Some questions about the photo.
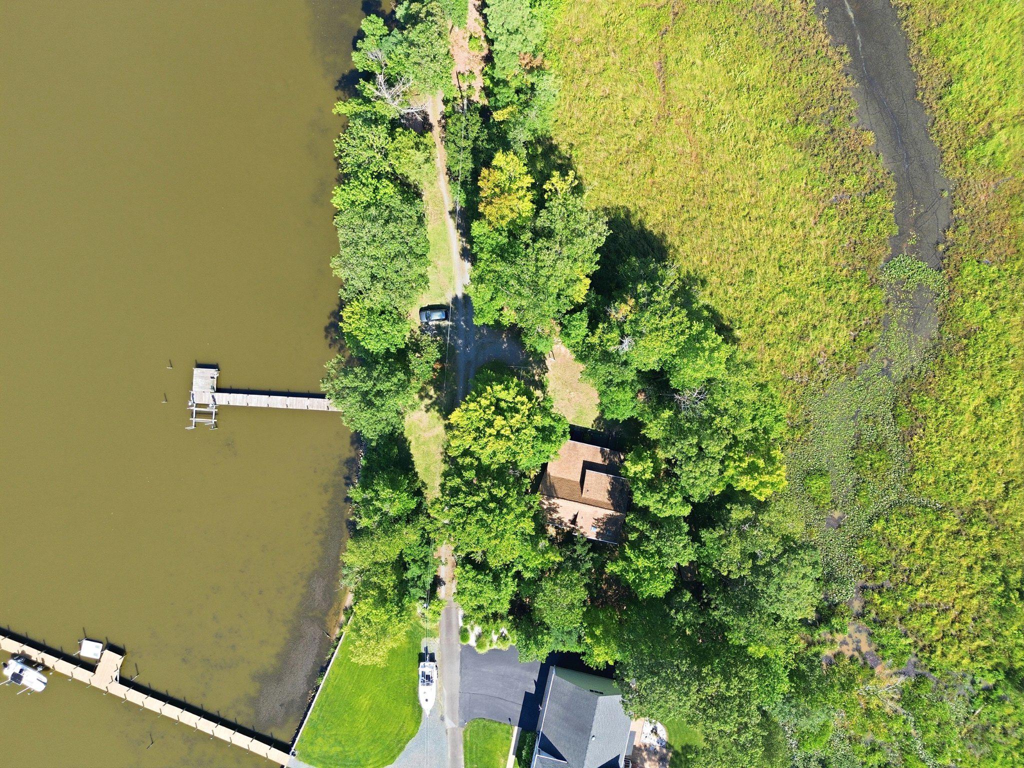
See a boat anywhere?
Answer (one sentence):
Yes, the frame does contain a boat.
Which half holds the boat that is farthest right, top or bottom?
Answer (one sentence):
It is in the bottom half that the boat that is farthest right appears.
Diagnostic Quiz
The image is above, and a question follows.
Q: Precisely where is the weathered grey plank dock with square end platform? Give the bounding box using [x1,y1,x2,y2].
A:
[187,368,365,413]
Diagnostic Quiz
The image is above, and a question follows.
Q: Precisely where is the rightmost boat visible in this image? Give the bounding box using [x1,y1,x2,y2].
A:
[418,654,438,717]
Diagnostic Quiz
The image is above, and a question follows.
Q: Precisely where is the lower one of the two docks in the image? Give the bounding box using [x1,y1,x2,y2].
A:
[0,635,292,766]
